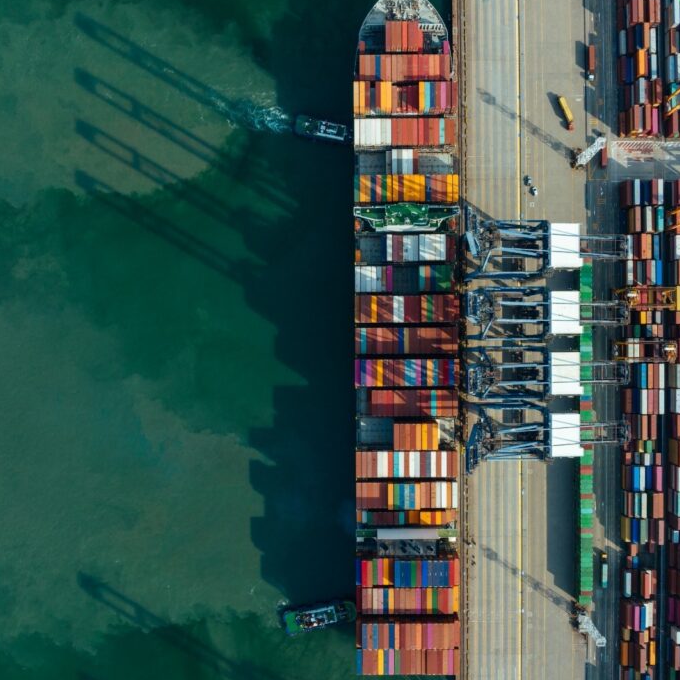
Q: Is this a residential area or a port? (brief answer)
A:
port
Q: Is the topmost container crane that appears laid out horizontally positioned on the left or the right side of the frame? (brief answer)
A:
right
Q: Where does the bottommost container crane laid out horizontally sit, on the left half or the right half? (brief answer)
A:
right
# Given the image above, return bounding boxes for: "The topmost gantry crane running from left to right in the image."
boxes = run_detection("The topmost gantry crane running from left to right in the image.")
[460,206,632,289]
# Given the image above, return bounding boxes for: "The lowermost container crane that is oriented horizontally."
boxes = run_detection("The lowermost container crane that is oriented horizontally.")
[460,393,632,471]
